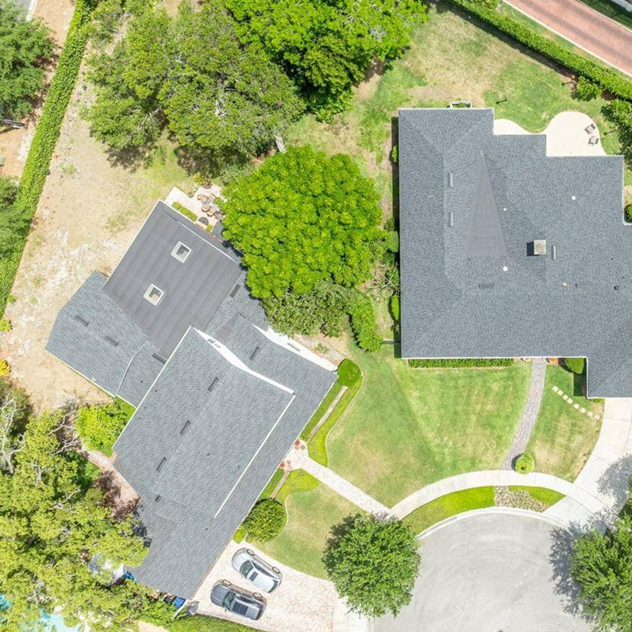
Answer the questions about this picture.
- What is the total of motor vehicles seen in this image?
2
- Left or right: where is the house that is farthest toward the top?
right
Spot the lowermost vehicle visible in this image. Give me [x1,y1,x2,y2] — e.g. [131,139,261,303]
[207,577,270,625]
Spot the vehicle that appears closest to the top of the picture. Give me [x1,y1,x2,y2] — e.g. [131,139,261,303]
[228,548,286,596]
